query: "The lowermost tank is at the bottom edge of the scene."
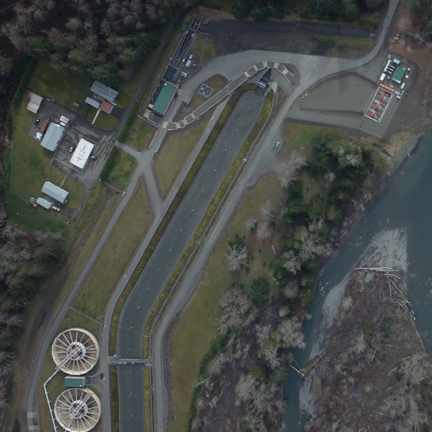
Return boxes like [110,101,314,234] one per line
[54,387,100,432]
